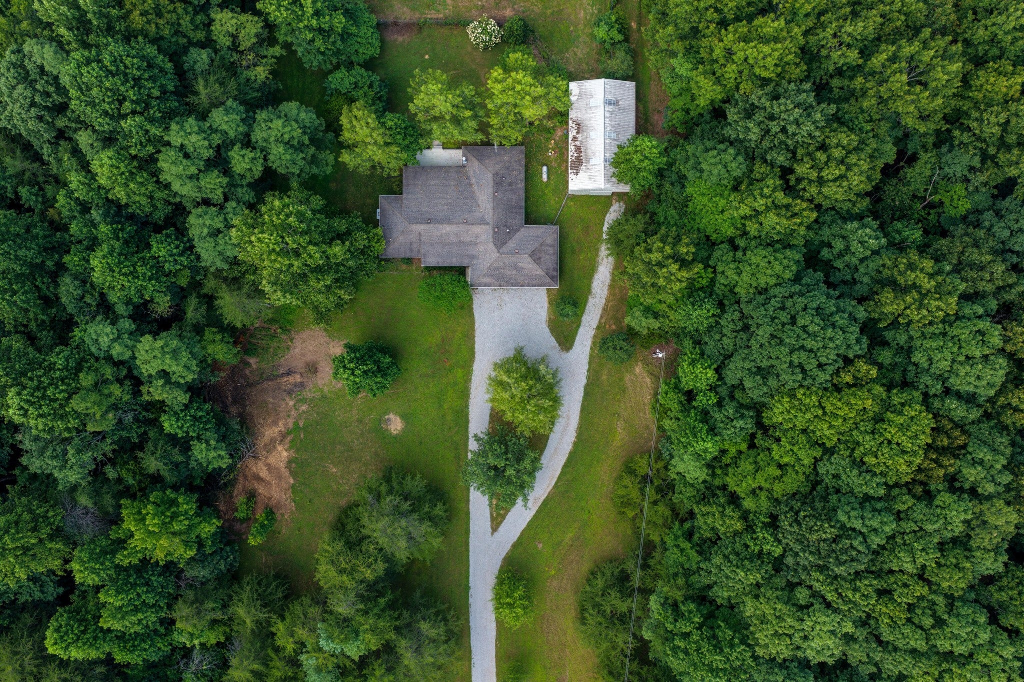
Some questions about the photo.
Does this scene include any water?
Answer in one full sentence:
No, water can't be seen anywhere here.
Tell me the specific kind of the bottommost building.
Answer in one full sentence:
The bottommost building in the image is a house.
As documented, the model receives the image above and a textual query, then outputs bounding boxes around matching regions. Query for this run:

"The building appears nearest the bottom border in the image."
[379,145,560,289]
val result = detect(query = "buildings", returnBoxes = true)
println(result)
[568,78,636,197]
[379,145,560,289]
